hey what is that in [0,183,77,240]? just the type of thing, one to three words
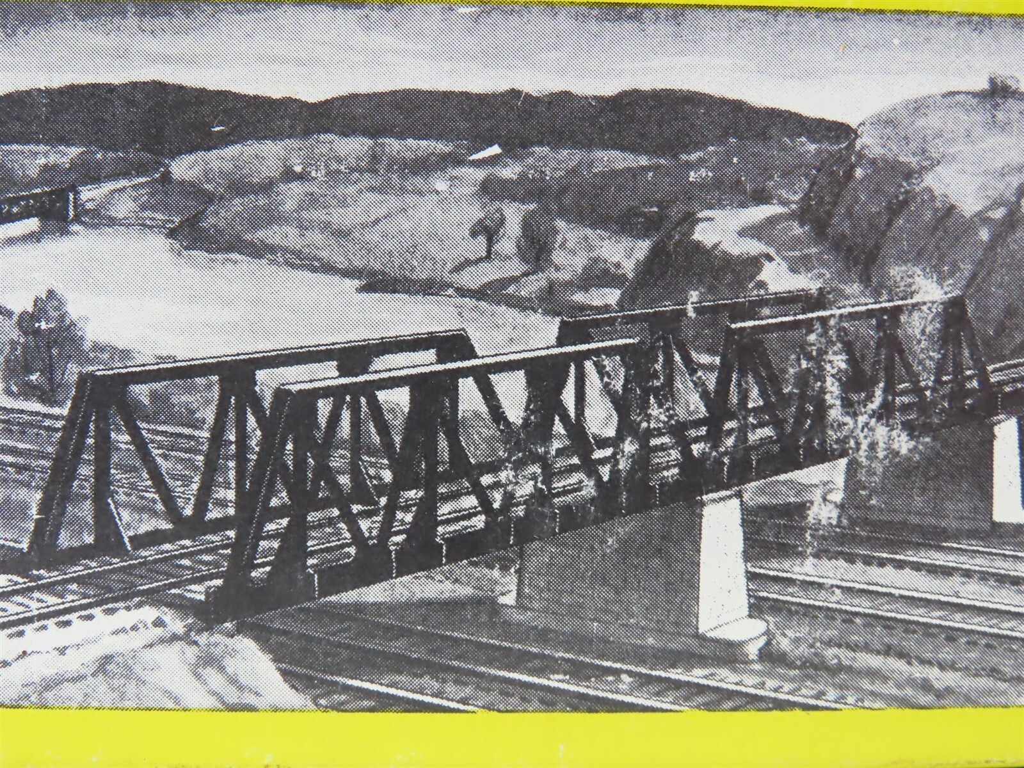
bridge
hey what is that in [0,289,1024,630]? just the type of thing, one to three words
bridge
